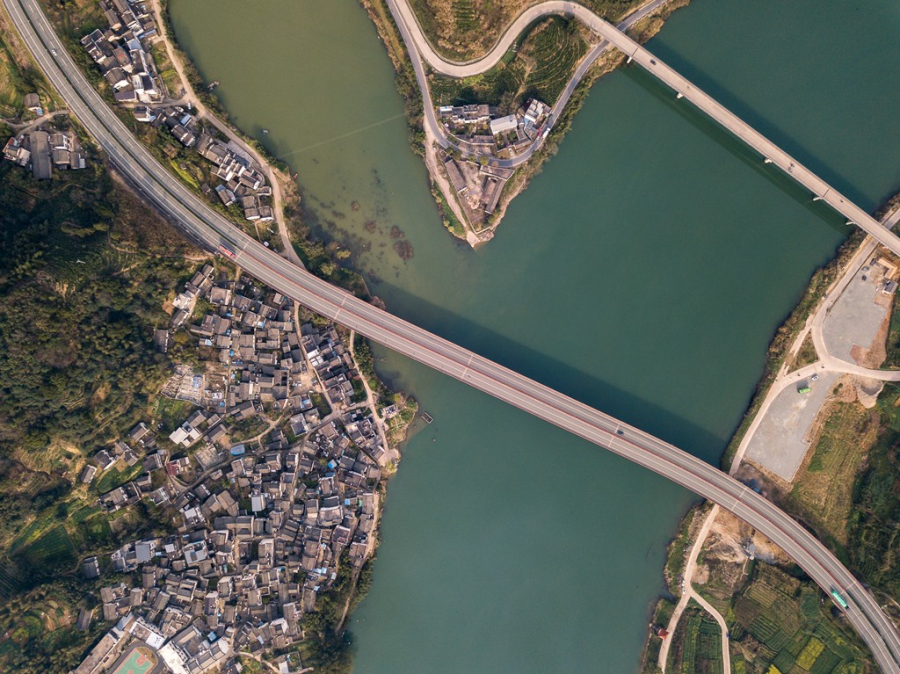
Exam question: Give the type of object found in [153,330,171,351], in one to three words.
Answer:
house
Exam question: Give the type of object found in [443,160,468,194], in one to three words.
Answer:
house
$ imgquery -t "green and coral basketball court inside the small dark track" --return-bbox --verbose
[112,646,156,674]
